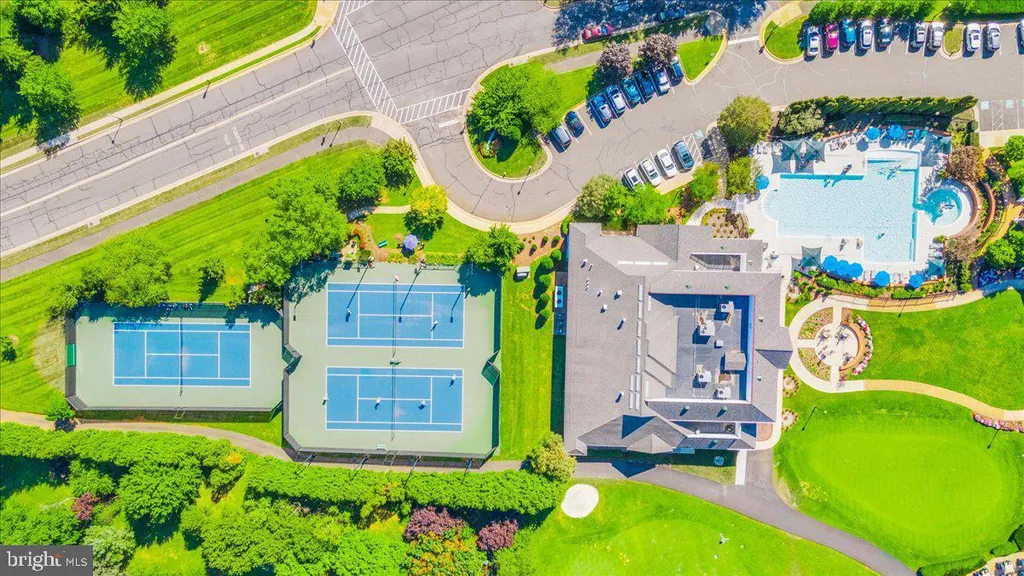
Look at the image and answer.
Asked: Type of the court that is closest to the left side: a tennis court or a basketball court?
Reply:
tennis court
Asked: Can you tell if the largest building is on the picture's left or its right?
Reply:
right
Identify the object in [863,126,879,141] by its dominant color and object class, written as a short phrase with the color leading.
blue umbrella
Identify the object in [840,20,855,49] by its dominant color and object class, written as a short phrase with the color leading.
blue car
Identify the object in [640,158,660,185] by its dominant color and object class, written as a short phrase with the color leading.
white car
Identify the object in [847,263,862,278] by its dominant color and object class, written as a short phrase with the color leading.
blue umbrella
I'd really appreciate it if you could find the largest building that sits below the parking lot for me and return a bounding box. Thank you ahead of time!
[562,222,793,455]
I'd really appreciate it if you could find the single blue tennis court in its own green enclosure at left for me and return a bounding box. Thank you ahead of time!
[76,304,285,408]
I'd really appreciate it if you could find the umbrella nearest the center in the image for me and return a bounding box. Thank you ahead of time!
[404,234,419,249]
